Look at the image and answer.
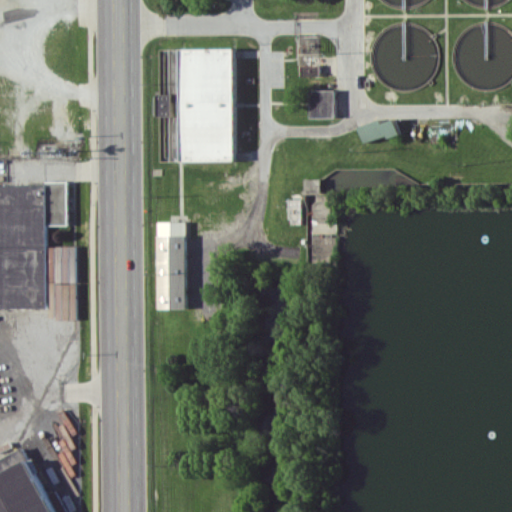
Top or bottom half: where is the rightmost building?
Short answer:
top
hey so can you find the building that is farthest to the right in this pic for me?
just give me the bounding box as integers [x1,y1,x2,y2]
[357,120,400,144]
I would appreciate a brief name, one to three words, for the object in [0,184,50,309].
building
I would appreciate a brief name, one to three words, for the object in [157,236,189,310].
shed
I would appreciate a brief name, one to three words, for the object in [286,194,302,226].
house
